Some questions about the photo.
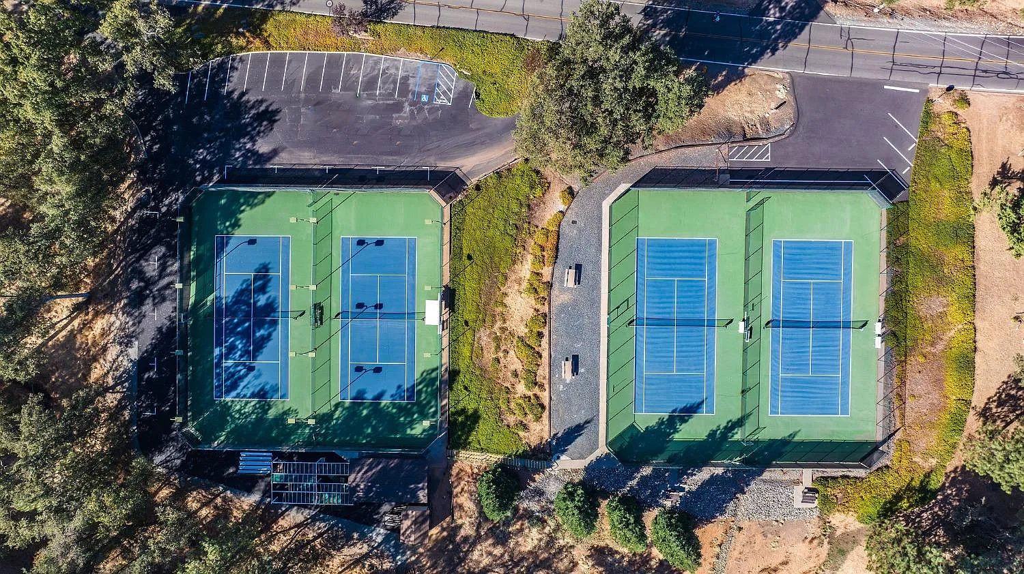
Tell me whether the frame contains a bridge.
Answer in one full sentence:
No, there's no bridge here.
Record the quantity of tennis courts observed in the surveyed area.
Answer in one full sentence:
Altogether the scene contains 4 tennis courts.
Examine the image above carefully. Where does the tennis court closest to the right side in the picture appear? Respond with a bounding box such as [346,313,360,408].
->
[742,190,881,461]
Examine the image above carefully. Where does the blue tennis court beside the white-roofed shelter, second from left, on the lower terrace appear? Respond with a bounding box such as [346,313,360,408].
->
[316,191,442,444]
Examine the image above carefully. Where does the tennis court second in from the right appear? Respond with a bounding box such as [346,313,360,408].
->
[606,189,746,460]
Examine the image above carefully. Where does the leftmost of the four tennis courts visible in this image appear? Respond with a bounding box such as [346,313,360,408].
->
[190,191,317,444]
